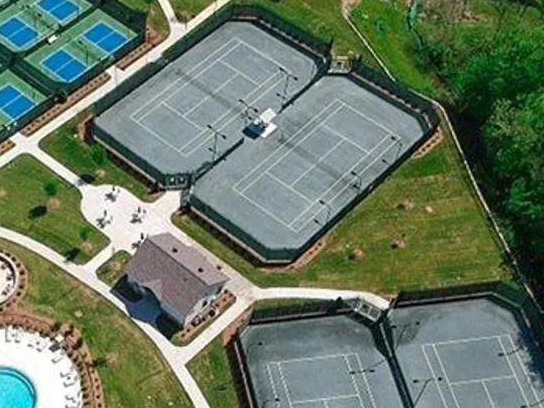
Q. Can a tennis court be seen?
Yes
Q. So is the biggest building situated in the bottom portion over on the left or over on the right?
left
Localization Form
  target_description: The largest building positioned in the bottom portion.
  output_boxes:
[124,233,230,329]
